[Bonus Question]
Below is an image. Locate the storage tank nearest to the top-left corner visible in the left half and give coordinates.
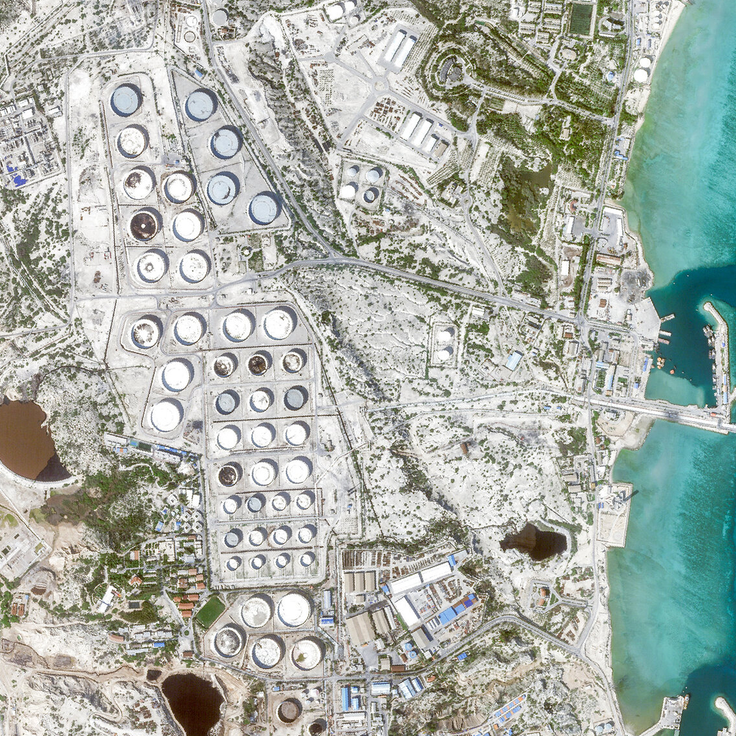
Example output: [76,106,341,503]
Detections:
[109,85,141,117]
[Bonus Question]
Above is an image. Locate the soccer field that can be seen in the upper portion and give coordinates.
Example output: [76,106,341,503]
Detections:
[571,2,594,35]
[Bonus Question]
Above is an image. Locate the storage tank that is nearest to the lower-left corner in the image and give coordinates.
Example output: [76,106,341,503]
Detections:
[211,627,244,659]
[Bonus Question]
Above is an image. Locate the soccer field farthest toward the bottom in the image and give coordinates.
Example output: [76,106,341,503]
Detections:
[193,593,227,630]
